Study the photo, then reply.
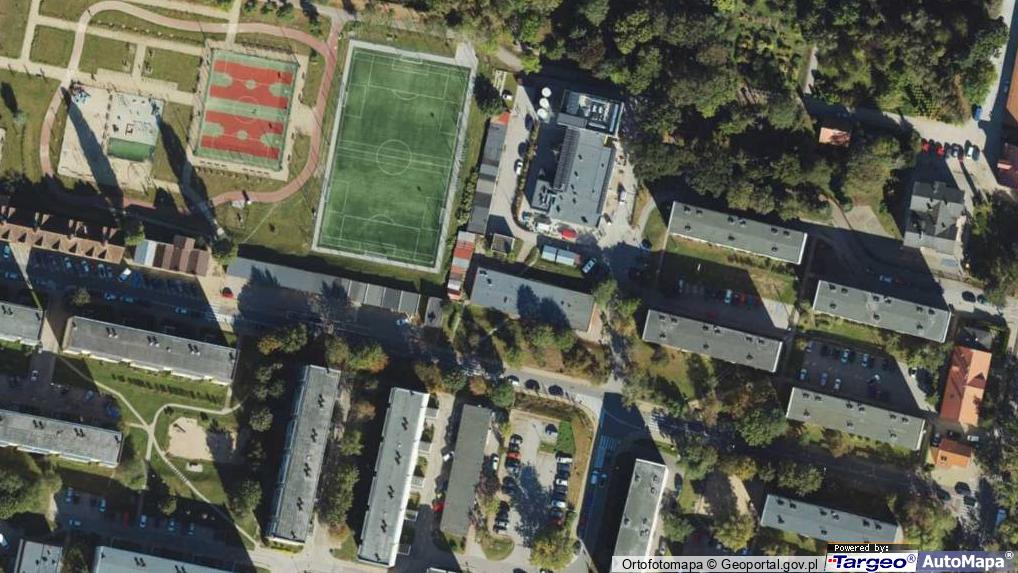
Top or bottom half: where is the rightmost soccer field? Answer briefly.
top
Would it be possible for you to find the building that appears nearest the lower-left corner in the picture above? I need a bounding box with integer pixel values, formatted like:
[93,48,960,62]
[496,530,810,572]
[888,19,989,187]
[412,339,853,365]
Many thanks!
[16,540,68,573]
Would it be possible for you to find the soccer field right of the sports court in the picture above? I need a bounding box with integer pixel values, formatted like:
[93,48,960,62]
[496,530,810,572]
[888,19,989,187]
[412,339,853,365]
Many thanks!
[312,40,474,272]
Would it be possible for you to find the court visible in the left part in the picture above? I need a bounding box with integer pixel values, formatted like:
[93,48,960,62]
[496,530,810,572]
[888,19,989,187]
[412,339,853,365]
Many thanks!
[188,40,313,181]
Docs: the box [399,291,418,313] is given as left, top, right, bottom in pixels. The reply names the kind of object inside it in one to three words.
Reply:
building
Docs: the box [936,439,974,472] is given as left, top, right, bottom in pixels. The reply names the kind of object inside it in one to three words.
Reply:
house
